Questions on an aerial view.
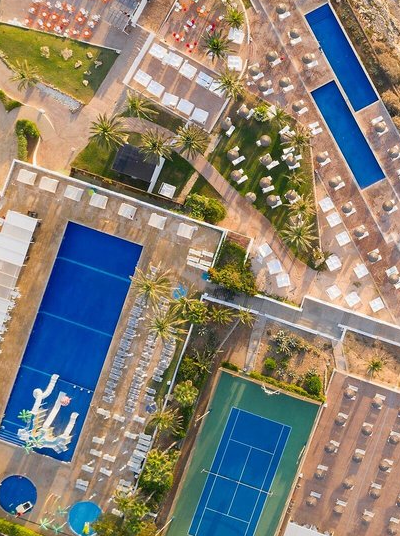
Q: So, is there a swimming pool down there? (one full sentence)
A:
Yes, the frame does contain a swimming pool.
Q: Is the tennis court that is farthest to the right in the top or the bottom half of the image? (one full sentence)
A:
The tennis court that is farthest to the right is in the bottom half of the image.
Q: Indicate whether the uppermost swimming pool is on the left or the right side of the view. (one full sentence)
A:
It is on the right.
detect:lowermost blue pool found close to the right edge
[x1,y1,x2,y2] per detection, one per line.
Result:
[309,78,386,190]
